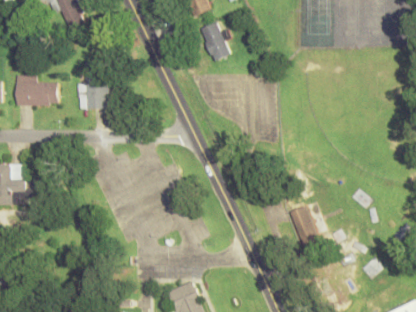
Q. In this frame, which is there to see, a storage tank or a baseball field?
baseball field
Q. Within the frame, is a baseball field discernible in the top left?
No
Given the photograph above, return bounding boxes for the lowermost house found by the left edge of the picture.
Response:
[0,164,28,206]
